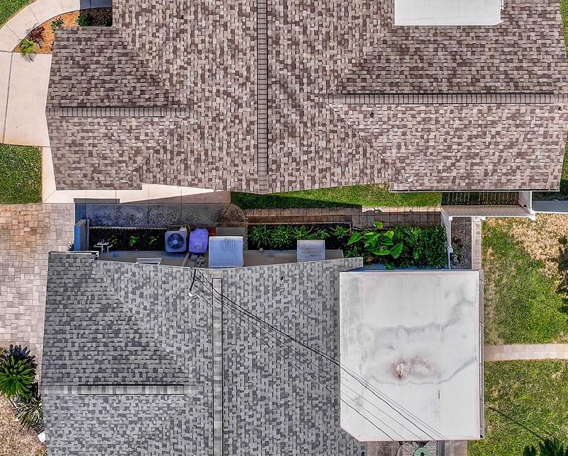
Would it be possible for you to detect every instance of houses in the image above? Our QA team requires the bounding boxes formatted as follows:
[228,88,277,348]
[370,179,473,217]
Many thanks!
[48,0,568,194]
[42,235,484,456]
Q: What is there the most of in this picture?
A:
buildings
